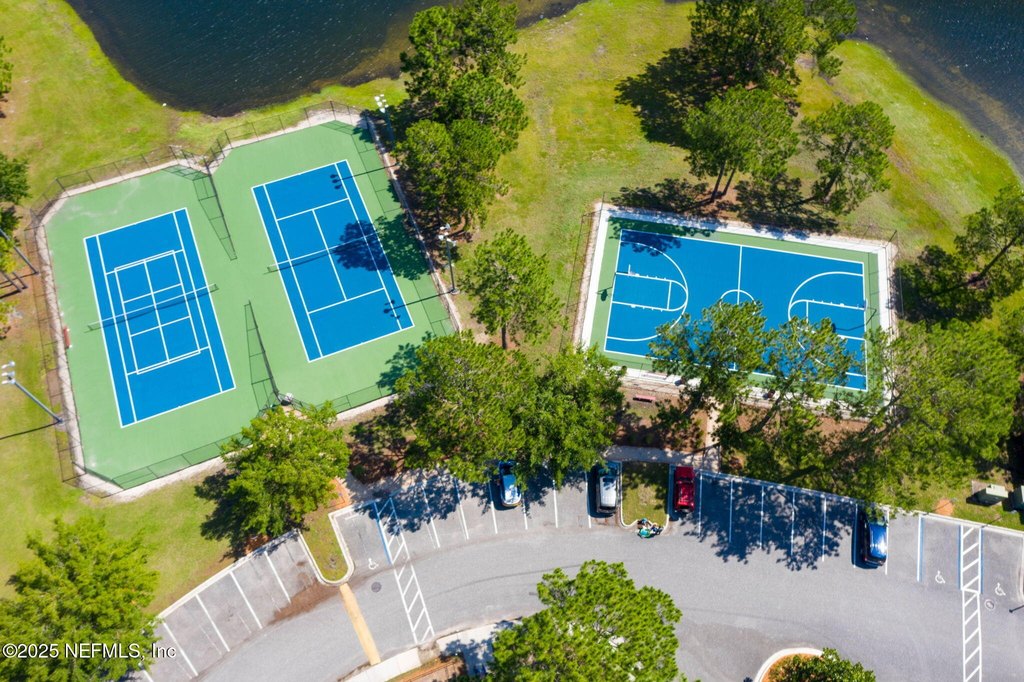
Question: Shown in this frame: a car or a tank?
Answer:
car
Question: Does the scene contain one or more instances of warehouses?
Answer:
No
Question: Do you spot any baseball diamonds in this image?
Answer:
No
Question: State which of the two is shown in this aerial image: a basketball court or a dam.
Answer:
basketball court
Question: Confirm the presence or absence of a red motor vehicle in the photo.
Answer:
Yes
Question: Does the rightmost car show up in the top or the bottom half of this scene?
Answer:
bottom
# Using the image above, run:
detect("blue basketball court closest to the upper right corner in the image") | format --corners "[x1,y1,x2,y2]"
[576,209,894,421]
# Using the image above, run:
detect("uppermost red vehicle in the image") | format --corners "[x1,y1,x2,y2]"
[673,467,698,518]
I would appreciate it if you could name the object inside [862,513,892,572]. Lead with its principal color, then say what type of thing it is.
blue car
